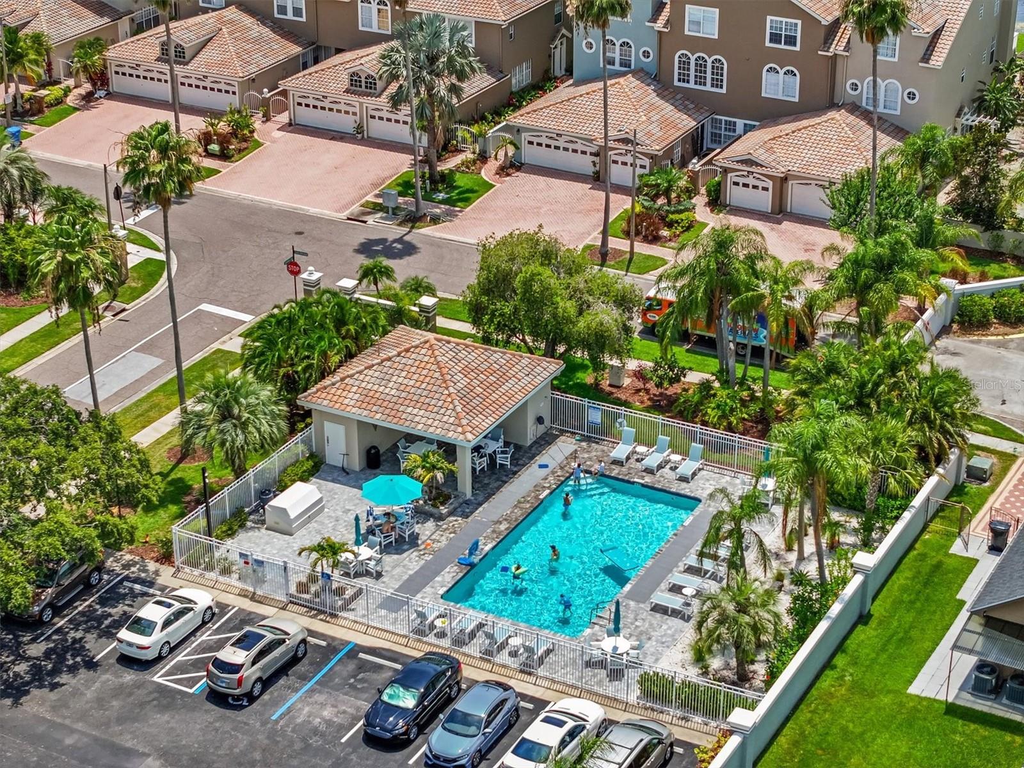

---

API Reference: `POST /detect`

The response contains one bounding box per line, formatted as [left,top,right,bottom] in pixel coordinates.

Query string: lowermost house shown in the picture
[965,517,1024,625]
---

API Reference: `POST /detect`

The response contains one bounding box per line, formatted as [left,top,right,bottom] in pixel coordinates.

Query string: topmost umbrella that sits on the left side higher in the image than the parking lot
[360,479,418,521]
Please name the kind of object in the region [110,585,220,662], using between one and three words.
car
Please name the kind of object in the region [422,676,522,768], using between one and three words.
car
